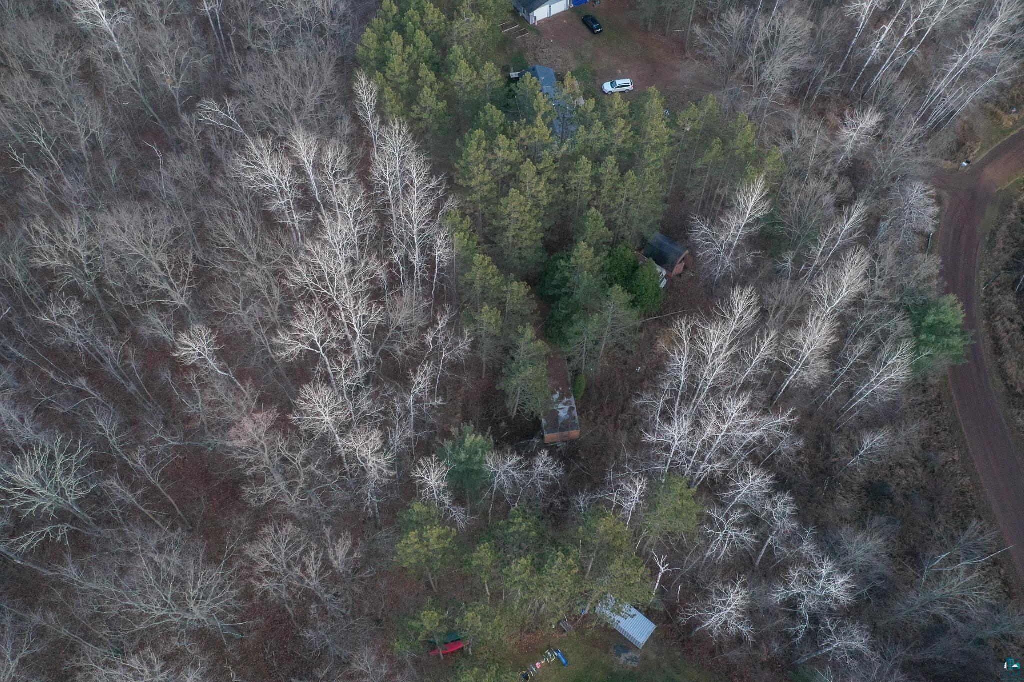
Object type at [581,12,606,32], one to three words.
car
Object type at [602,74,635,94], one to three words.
car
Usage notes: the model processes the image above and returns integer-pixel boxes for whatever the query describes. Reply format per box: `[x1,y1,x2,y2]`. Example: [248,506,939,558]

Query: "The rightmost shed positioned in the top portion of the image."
[648,233,694,279]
